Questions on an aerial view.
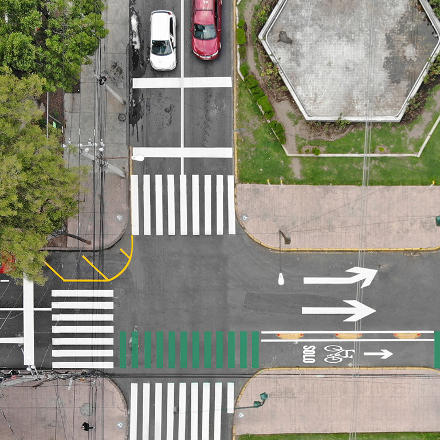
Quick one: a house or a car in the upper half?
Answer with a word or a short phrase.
car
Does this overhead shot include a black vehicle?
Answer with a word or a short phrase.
No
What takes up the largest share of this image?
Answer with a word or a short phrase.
paved ground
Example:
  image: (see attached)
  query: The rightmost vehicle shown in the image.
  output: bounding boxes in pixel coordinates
[187,0,222,57]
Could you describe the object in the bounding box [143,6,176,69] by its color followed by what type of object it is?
white car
